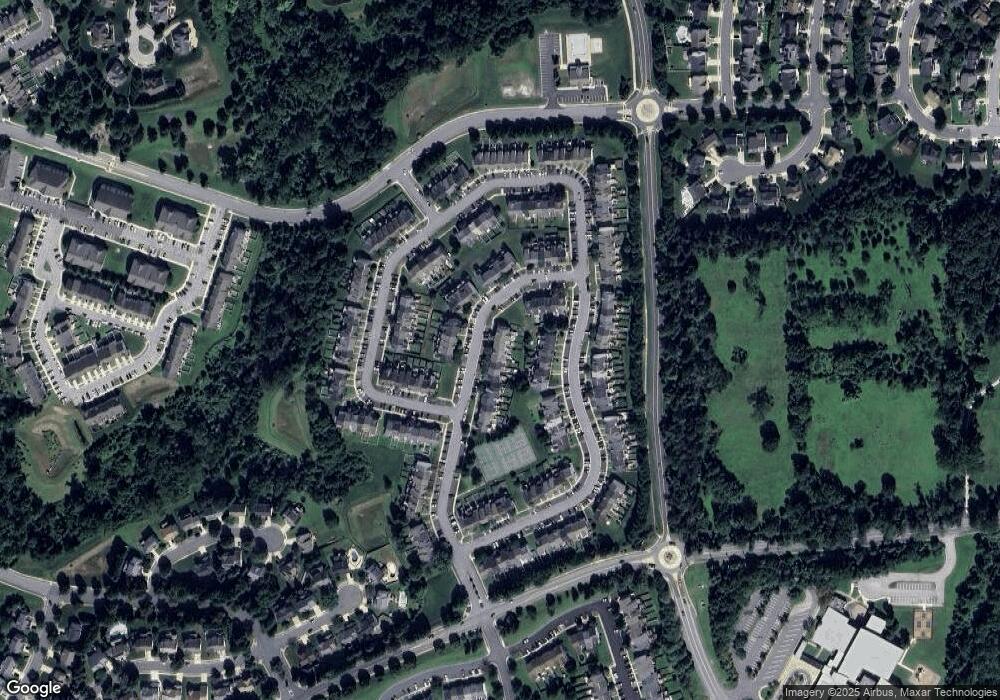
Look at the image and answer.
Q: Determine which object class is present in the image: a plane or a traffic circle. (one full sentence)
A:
Looking from above, you can make out a traffic circle.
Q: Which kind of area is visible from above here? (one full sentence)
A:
The area seen from above is a residential area.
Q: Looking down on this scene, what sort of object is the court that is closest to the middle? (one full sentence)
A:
The court that is closest to the middle appears to be a tennis court.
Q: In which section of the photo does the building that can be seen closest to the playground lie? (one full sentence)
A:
You can find the building that can be seen closest to the playground in the bottom right area of the picture.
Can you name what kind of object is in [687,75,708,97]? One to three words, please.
house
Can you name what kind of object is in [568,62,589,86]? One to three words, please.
building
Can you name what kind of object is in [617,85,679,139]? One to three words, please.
roundabout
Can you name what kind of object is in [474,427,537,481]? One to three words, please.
tennis court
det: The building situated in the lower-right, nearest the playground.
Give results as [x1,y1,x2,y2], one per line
[800,607,905,700]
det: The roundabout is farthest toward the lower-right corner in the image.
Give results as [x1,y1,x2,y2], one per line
[639,533,696,580]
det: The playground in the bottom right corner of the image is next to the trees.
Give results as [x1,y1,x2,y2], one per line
[911,664,940,692]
